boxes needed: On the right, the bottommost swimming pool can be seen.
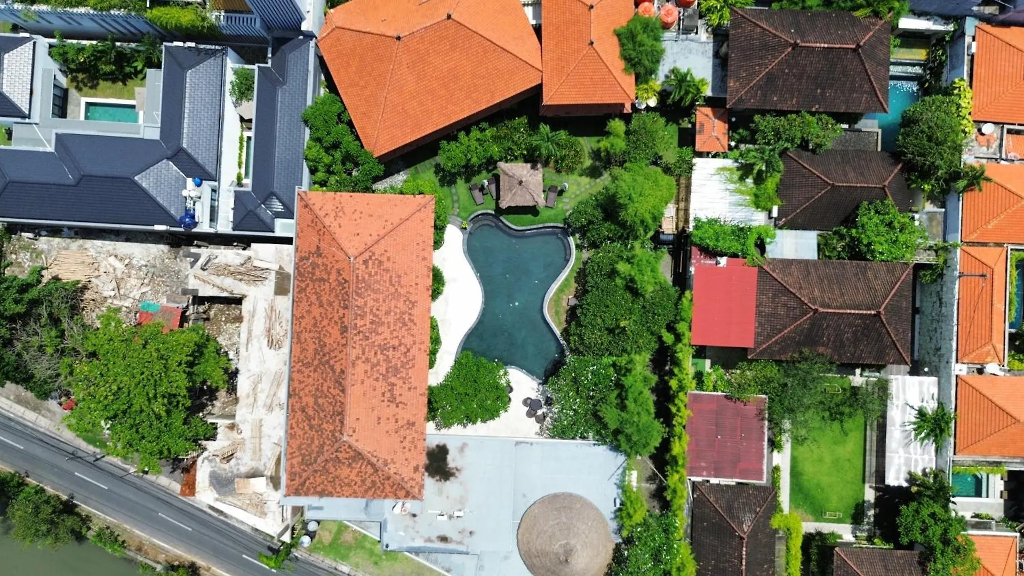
[953,474,1003,501]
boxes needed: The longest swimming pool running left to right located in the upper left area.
[80,98,143,123]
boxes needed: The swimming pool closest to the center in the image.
[457,209,575,388]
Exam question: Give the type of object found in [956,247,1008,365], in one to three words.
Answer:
house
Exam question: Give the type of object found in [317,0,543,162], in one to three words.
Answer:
house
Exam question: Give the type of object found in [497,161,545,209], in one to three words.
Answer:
gazebo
